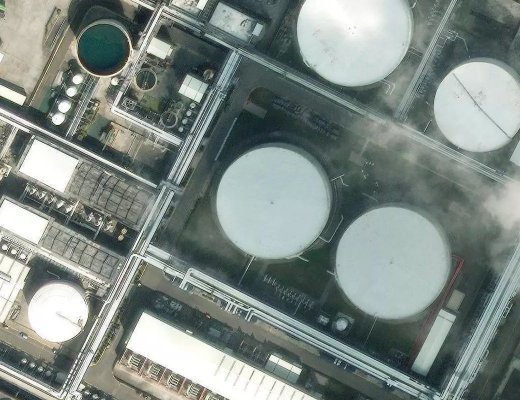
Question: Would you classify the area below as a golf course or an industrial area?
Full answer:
The picture captures an industrial area.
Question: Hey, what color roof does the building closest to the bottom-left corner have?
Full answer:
The roof of the building closest to the bottom-left corner is white.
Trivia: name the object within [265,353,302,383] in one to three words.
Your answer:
shed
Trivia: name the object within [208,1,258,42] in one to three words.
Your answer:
building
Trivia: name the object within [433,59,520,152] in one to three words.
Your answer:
storage tank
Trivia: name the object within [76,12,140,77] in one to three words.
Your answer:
water tank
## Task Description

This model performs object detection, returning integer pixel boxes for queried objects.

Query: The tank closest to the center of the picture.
[217,144,330,257]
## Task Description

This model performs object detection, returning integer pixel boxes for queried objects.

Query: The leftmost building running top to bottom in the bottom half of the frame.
[0,250,32,323]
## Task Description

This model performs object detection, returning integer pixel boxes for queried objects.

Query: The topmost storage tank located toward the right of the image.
[297,0,412,86]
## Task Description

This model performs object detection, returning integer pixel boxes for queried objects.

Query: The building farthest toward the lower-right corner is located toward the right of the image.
[411,309,457,375]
